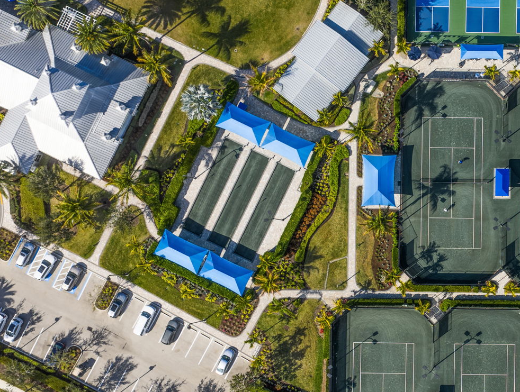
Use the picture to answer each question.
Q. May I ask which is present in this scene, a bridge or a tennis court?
tennis court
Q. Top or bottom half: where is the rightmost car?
bottom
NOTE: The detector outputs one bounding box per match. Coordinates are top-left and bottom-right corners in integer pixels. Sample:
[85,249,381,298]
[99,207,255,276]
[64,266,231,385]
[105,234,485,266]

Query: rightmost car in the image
[217,348,237,374]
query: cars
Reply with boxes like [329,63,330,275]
[108,291,130,318]
[35,254,57,281]
[0,310,11,336]
[5,316,25,342]
[162,317,183,345]
[15,242,37,268]
[62,264,86,290]
[135,306,158,335]
[217,348,237,374]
